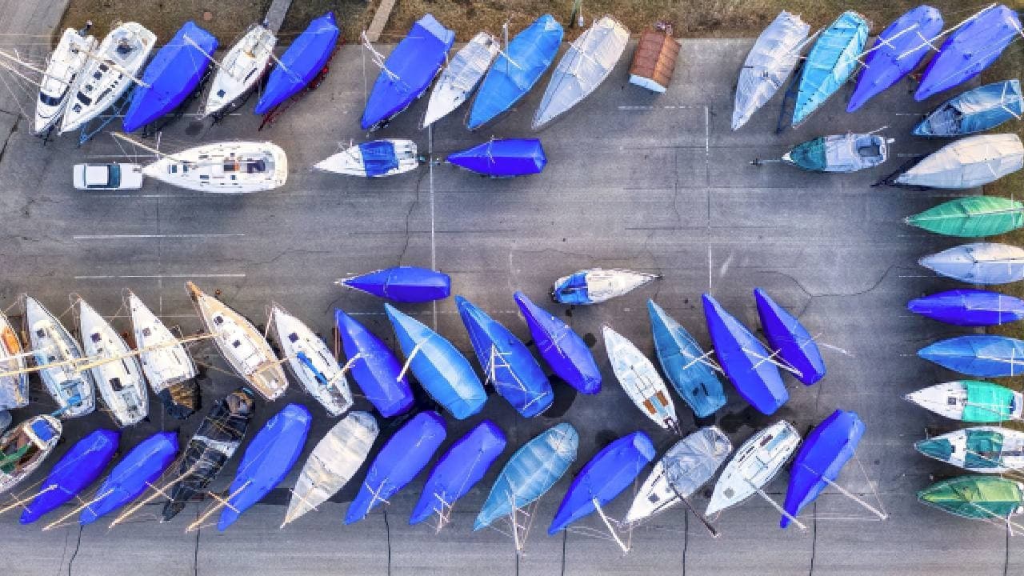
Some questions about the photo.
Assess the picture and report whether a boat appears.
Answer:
Yes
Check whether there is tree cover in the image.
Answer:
No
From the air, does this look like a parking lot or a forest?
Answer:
parking lot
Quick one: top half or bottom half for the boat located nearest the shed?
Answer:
top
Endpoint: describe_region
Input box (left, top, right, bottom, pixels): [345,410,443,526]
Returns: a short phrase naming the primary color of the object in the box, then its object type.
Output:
blue boat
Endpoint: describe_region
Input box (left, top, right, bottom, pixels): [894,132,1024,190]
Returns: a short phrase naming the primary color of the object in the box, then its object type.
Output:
white boat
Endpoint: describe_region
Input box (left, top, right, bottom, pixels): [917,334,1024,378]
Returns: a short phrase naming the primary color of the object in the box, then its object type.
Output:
blue boat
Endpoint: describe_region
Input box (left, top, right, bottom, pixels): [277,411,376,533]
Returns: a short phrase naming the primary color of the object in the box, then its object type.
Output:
white boat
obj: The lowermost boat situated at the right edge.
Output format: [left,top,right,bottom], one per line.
[918,476,1024,539]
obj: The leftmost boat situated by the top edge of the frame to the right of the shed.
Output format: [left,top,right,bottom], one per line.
[734,9,829,129]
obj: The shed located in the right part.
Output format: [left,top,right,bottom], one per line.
[628,32,681,93]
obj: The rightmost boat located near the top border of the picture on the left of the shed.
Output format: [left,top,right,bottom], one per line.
[532,13,629,130]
